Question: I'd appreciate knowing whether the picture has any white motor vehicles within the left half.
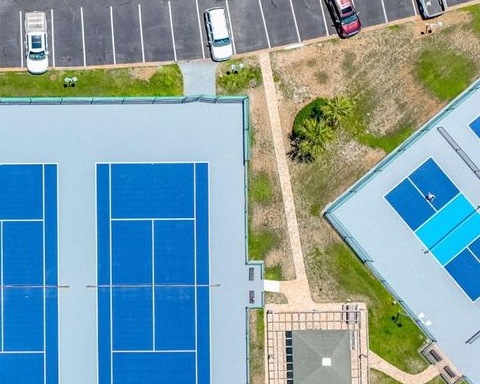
Yes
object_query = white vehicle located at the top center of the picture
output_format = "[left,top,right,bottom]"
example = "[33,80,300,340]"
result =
[203,8,233,62]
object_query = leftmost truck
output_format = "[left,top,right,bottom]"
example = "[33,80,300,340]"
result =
[24,11,50,75]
